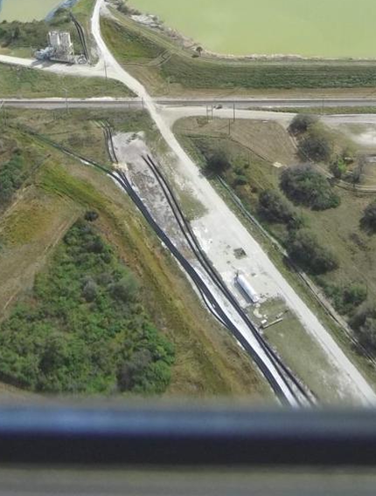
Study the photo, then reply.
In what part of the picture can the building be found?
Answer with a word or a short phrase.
top left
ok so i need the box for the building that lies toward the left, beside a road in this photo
[40,34,74,67]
